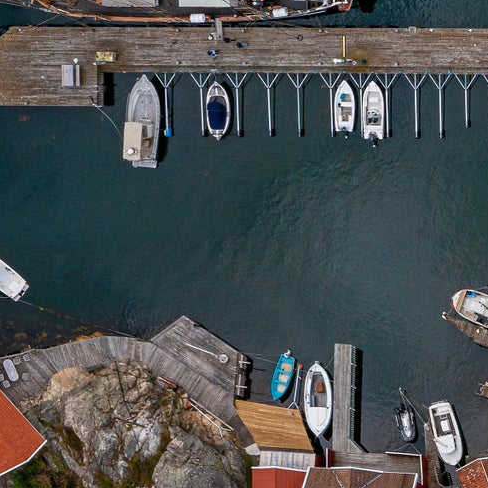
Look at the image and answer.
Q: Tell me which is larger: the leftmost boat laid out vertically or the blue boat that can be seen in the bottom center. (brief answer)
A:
the leftmost boat laid out vertically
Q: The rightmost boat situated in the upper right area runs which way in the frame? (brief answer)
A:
up and down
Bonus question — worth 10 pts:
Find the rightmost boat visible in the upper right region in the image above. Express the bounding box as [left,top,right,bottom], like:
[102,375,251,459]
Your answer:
[360,81,386,145]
